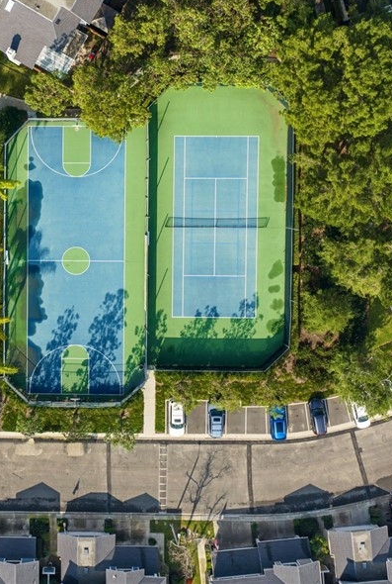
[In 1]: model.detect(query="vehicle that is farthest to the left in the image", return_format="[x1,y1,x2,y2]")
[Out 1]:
[169,401,186,436]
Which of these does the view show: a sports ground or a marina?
sports ground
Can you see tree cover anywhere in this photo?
Yes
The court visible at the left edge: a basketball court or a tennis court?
basketball court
